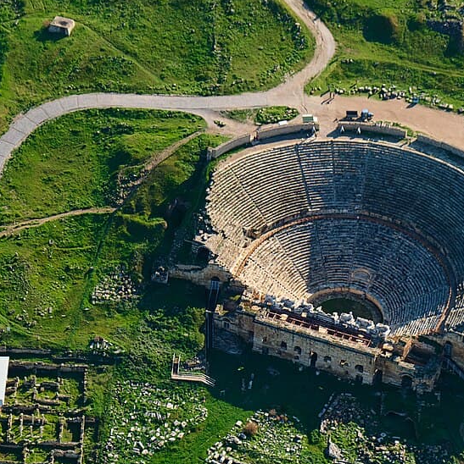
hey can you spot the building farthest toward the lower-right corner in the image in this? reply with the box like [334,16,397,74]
[214,296,441,394]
